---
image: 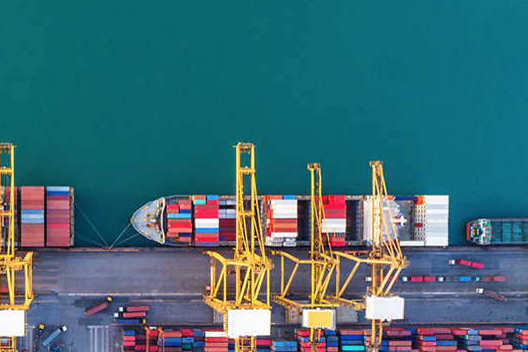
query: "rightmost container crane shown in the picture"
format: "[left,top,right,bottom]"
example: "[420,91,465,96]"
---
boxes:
[329,162,412,352]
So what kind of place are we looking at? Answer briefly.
port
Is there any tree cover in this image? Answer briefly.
No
